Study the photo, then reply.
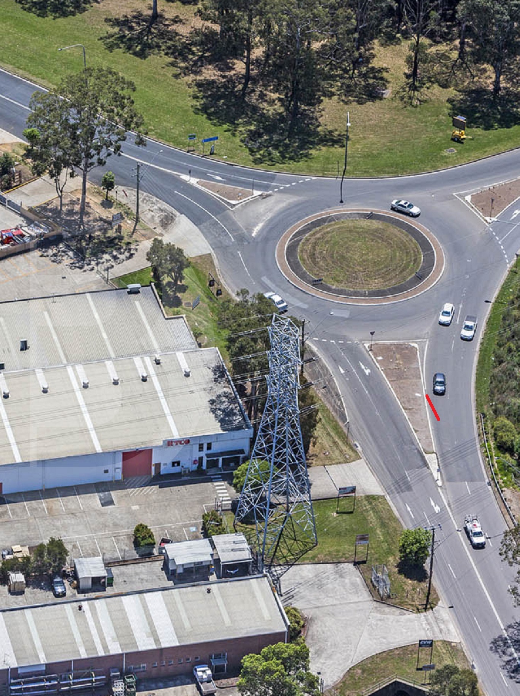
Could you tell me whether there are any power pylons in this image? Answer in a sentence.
Yes, a power pylon can be made out from above.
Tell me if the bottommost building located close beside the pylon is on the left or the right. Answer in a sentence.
The bottommost building located close beside the pylon sits on the left side.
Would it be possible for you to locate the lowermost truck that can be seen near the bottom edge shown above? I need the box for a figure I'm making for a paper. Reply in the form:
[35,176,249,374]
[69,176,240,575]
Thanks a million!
[195,666,218,696]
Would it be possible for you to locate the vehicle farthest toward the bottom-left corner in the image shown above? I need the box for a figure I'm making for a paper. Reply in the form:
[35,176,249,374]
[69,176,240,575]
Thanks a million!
[50,569,69,596]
